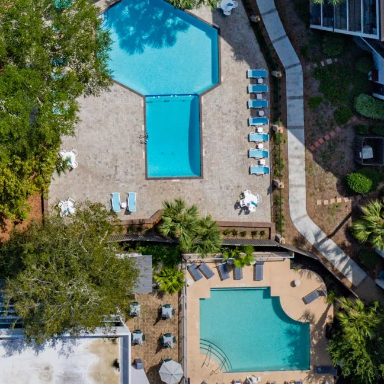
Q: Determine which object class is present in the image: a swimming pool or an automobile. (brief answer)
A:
swimming pool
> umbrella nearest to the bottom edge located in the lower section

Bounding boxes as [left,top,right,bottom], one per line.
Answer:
[158,357,183,382]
